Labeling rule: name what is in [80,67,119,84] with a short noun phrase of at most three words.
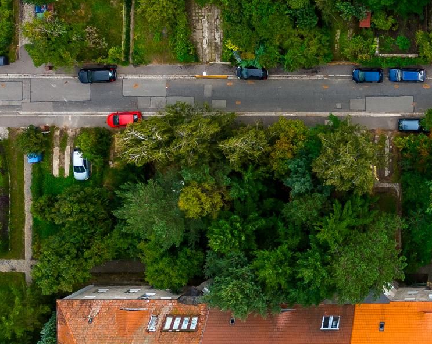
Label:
car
